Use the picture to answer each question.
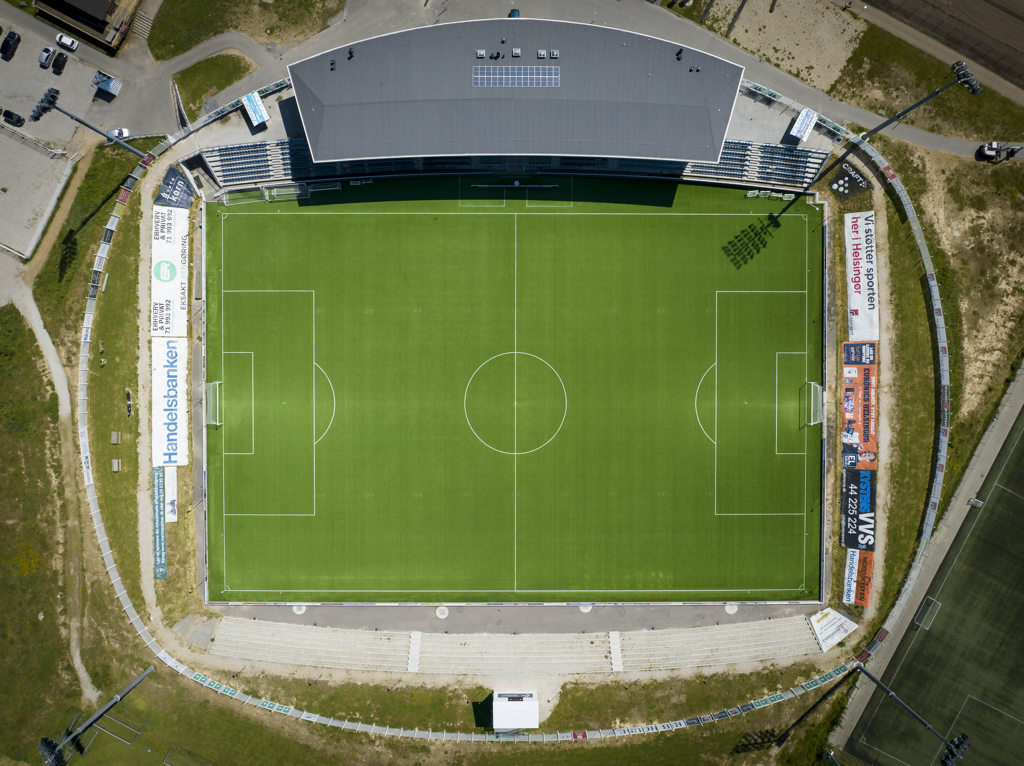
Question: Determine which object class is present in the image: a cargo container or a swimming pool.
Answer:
cargo container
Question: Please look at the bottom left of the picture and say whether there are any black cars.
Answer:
No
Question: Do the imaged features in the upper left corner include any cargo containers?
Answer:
Yes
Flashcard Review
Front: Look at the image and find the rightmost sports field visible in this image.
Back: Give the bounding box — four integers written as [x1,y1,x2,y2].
[843,408,1024,766]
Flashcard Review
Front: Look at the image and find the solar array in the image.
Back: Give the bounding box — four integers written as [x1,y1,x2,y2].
[473,66,560,86]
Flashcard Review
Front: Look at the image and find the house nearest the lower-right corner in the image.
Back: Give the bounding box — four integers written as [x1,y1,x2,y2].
[493,691,539,741]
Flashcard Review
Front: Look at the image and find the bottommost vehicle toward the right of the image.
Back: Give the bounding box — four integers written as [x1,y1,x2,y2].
[980,142,1023,159]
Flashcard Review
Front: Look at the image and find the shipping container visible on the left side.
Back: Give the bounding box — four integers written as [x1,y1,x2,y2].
[91,70,129,99]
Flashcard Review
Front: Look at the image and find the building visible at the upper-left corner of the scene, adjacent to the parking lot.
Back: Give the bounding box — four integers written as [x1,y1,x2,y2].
[26,0,151,53]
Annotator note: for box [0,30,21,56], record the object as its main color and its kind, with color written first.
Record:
black car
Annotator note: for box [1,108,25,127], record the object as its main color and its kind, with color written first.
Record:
black car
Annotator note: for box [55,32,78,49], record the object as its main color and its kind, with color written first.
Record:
white car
